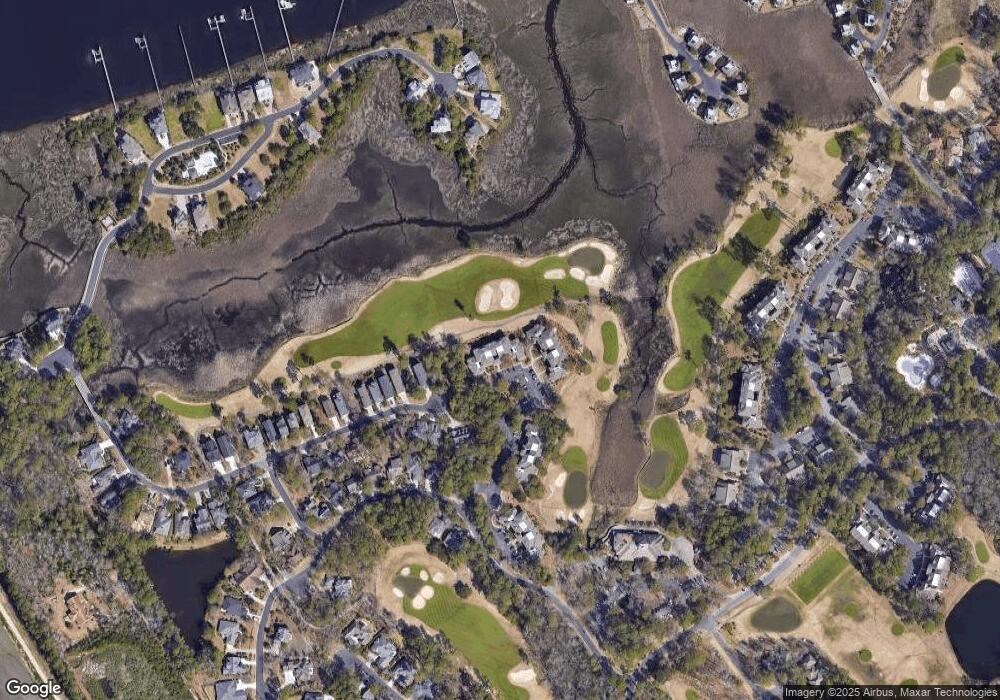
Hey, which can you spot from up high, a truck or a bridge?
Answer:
bridge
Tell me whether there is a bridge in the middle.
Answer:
No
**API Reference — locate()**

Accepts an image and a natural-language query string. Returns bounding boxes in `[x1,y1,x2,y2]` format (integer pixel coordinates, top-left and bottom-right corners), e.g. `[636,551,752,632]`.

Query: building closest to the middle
[468,334,526,376]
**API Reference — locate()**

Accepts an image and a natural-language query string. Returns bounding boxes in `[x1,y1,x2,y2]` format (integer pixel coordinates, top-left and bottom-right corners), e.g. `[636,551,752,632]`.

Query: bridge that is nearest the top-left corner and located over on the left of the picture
[79,230,110,301]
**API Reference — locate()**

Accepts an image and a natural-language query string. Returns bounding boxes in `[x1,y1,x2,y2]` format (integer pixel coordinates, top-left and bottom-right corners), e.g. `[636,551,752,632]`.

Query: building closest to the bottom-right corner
[918,545,953,597]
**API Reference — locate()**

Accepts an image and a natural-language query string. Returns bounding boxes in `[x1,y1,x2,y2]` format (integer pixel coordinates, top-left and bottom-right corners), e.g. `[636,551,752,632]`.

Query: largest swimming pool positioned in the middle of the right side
[896,355,934,390]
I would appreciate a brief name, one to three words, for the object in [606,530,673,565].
building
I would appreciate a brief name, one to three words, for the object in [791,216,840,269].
building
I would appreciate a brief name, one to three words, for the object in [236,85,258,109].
house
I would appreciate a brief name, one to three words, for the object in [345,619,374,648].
house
